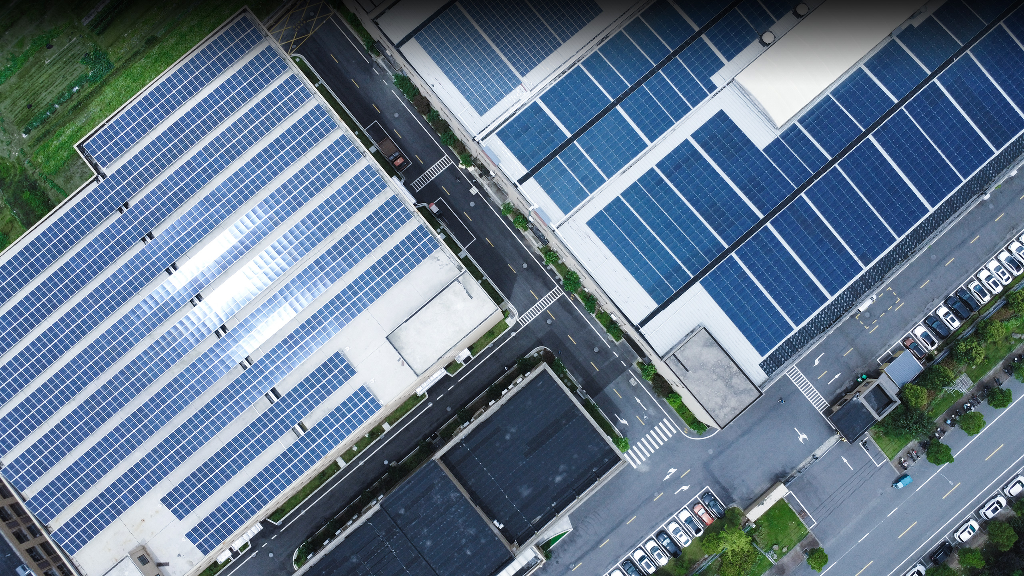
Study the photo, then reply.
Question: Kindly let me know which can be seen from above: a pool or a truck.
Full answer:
The one in the frame is a truck.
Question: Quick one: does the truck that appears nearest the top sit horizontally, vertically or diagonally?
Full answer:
In this picture, the truck that appears nearest the top lies diagonally.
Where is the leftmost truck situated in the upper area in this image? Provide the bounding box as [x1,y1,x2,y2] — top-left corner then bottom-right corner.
[376,136,411,174]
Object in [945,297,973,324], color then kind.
black car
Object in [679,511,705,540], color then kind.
white car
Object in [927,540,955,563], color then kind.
black car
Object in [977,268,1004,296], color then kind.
white car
